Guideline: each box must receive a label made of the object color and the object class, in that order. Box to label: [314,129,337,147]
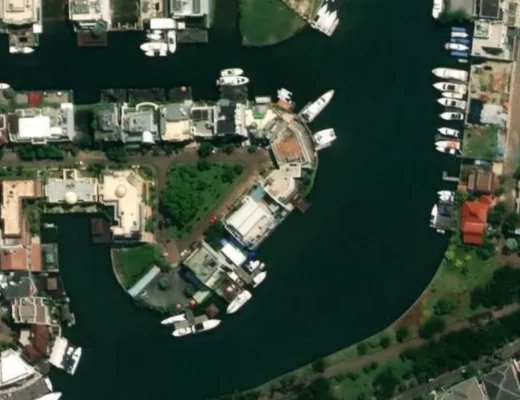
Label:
white boat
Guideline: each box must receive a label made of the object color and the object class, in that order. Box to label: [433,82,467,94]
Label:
white boat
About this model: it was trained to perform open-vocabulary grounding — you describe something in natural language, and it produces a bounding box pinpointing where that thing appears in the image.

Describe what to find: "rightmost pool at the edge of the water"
[468,100,483,123]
